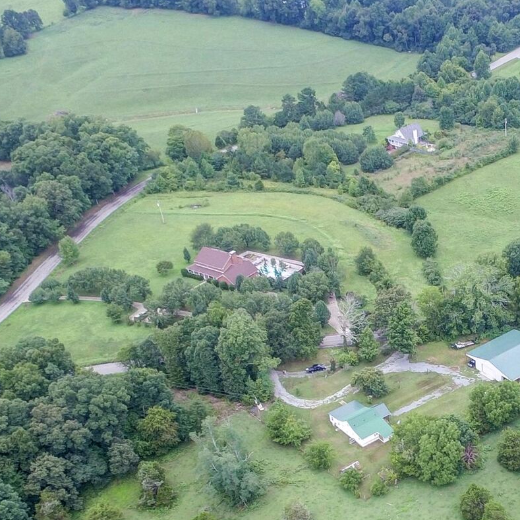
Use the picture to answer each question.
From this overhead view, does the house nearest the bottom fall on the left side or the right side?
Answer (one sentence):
The house nearest the bottom is on the right side of the image.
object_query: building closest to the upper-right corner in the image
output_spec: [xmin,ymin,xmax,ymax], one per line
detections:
[385,123,431,150]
